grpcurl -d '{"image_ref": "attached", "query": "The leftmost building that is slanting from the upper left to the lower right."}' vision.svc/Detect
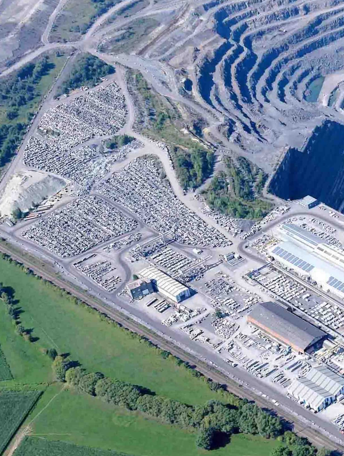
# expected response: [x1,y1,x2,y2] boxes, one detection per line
[140,266,190,302]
